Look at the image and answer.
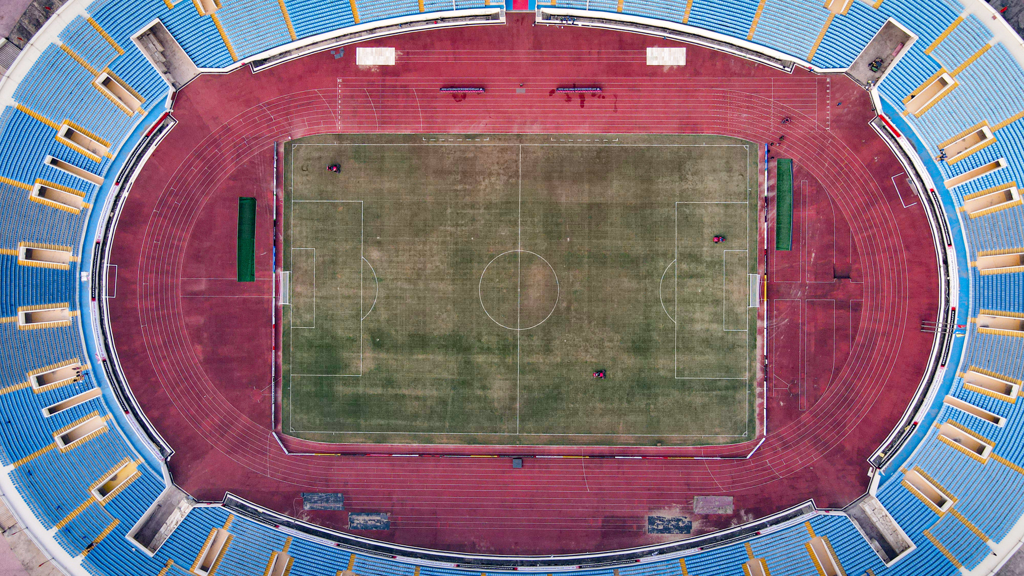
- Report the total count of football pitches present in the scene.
1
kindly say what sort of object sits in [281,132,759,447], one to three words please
soccer field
